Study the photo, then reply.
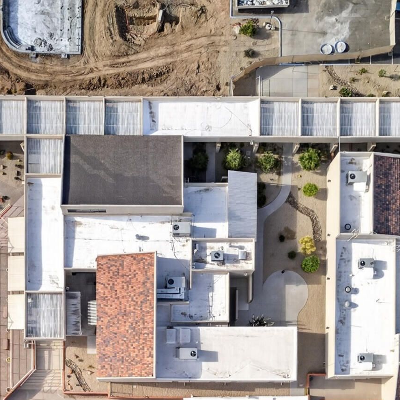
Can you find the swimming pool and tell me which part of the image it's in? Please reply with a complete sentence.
The swimming pool appears toward the top left of the photo.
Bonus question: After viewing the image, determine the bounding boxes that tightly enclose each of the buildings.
[324,152,400,400]
[25,134,298,385]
